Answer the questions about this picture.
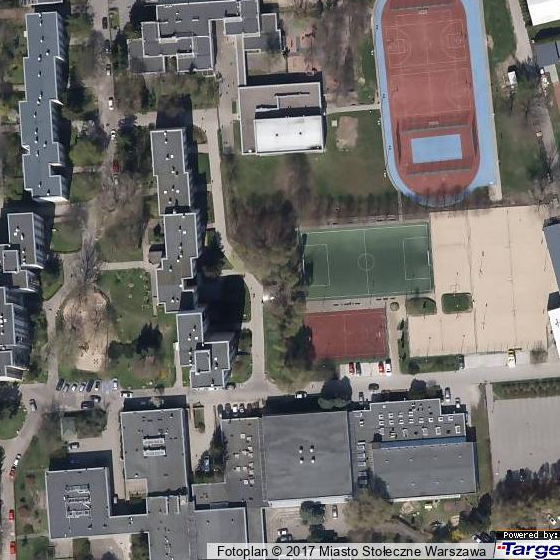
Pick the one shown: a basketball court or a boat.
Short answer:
basketball court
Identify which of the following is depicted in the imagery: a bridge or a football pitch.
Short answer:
football pitch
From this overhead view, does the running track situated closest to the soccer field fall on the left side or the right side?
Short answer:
right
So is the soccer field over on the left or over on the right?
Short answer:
right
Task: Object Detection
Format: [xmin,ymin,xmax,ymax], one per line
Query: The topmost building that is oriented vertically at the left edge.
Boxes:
[19,12,69,202]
